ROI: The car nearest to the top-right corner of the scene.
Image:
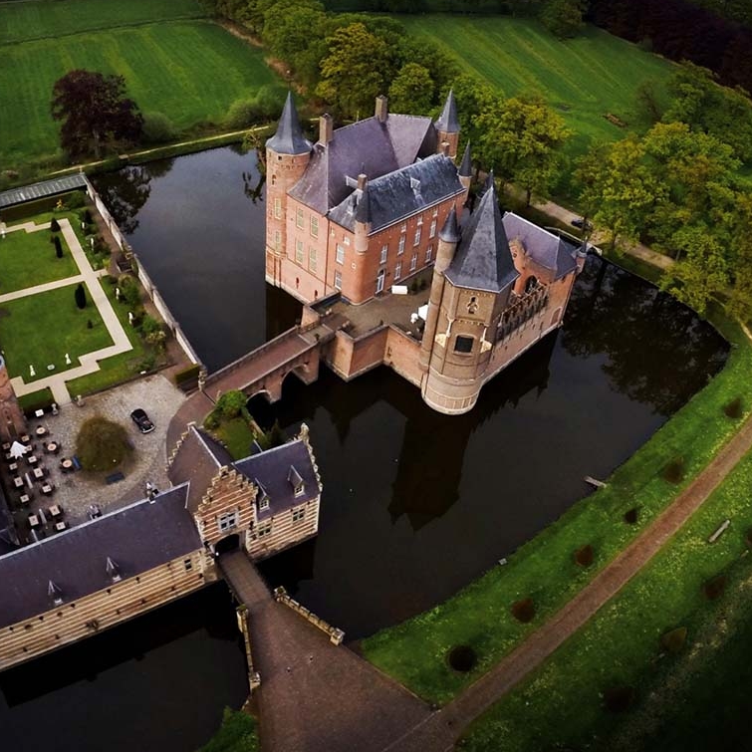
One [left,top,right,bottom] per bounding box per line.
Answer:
[569,218,593,231]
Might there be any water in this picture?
Yes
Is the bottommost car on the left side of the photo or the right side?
left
